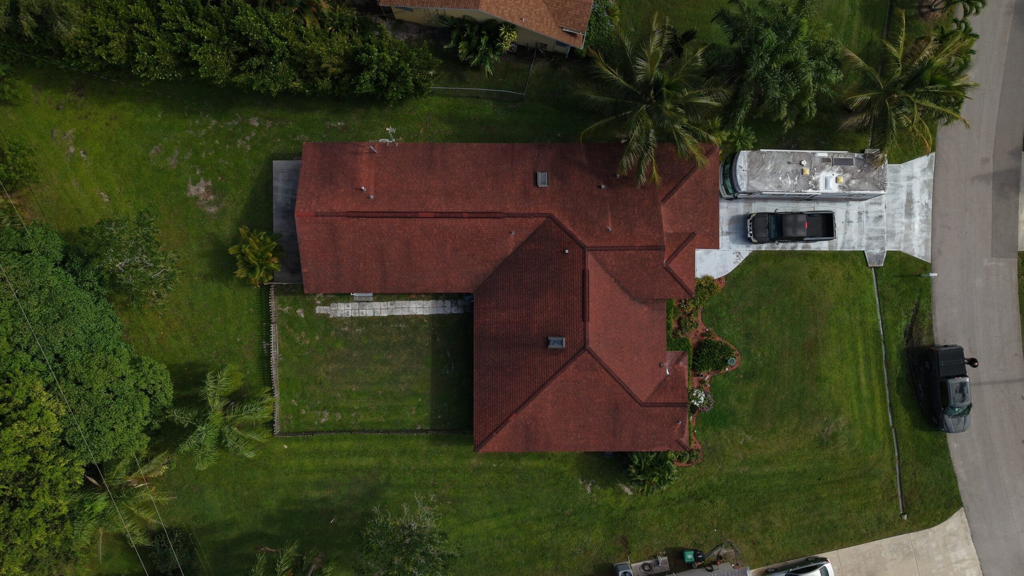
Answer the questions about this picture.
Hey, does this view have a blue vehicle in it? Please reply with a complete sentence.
No, this view has no blue vehicle in it.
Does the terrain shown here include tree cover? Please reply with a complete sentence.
Yes, some tree cover is visible.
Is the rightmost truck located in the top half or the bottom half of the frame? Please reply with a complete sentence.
Seen from above, the rightmost truck lies in the bottom half of the view.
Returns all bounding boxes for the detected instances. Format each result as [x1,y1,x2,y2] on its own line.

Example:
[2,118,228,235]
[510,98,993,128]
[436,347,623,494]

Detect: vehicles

[926,342,979,436]
[720,147,890,202]
[743,205,837,248]
[758,556,838,576]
